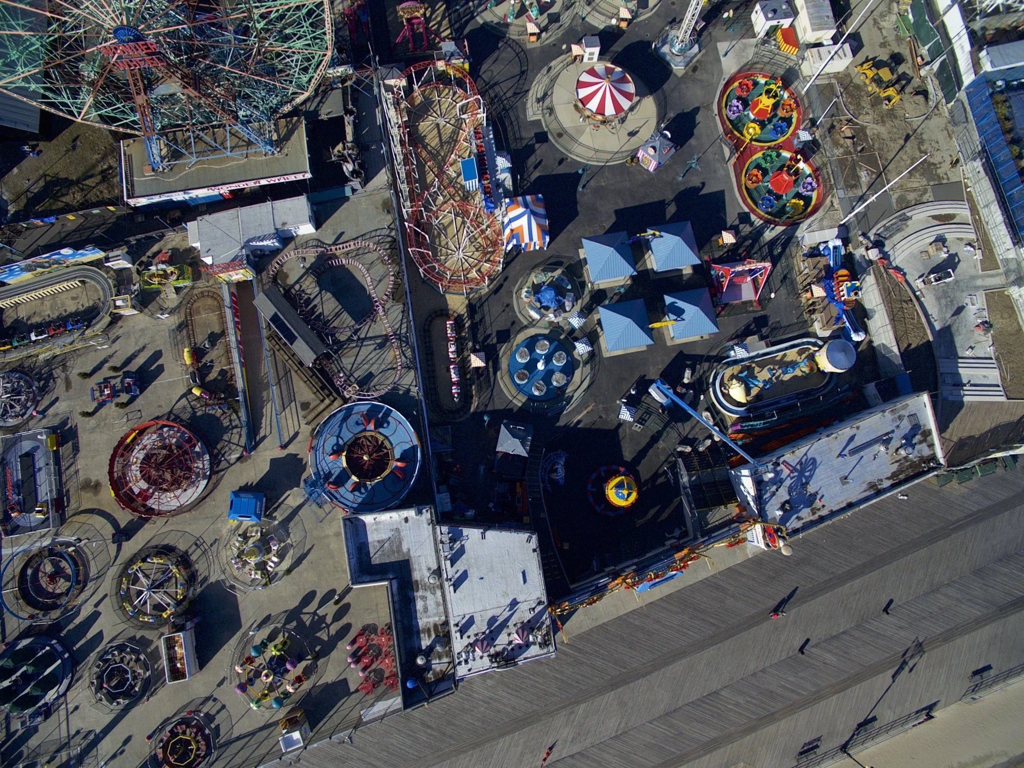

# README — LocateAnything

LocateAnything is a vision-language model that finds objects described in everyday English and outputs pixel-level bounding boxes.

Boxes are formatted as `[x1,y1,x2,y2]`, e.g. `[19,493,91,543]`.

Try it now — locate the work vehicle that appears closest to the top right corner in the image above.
[852,60,902,110]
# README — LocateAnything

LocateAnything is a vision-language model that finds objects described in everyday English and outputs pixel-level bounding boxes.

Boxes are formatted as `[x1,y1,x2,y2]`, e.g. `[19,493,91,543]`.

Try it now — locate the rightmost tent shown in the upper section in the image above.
[504,194,549,255]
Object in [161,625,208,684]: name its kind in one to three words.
trailer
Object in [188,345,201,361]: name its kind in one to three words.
rail car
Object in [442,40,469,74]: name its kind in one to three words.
house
